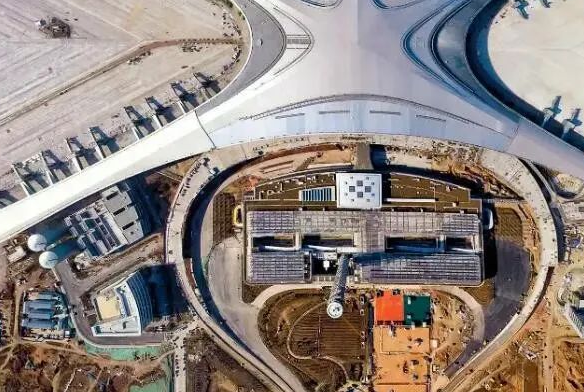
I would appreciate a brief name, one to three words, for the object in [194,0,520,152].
building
